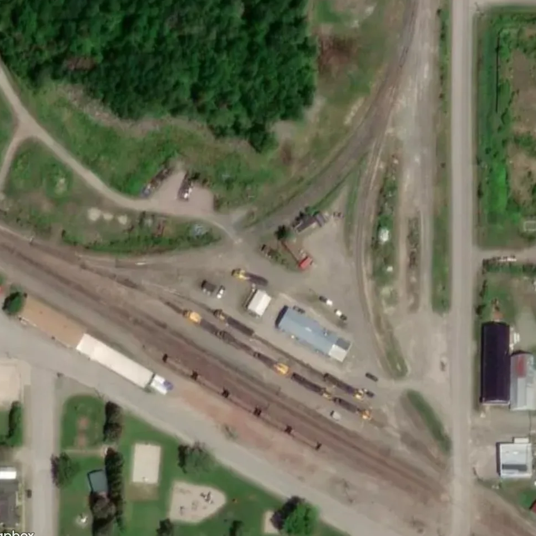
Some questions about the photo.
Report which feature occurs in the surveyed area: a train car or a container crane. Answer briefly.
train car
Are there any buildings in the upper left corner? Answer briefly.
No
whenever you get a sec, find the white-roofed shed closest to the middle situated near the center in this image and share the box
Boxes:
[248,289,272,316]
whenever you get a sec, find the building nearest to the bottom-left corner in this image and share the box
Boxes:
[0,481,19,526]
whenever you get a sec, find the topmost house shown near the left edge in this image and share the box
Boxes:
[18,299,85,347]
